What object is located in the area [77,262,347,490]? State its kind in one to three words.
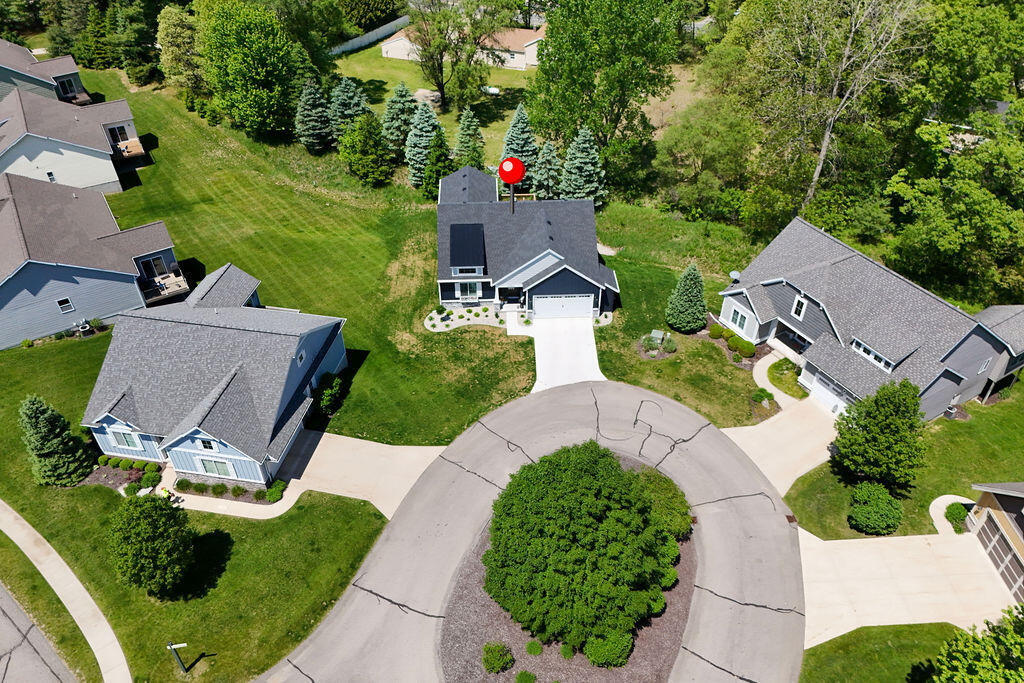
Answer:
house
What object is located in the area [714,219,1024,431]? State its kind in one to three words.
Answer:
house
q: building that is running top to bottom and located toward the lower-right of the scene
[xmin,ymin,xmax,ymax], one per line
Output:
[967,485,1024,619]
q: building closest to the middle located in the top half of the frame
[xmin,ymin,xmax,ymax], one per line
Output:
[434,165,620,321]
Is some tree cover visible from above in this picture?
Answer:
Yes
